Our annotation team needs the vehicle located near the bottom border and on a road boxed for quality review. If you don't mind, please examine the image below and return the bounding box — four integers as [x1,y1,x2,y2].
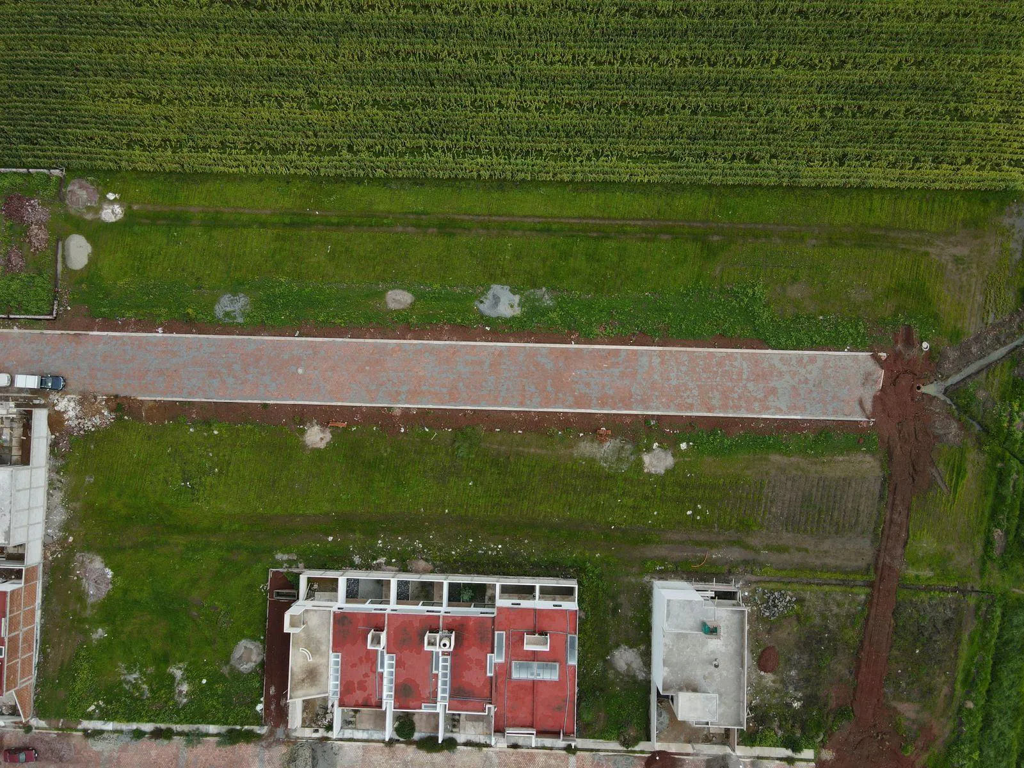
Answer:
[2,746,39,766]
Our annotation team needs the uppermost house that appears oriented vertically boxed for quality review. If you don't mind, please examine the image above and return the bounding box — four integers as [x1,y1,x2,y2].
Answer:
[0,407,49,566]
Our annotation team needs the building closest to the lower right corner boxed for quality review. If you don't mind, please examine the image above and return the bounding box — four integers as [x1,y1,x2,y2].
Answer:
[652,581,746,728]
